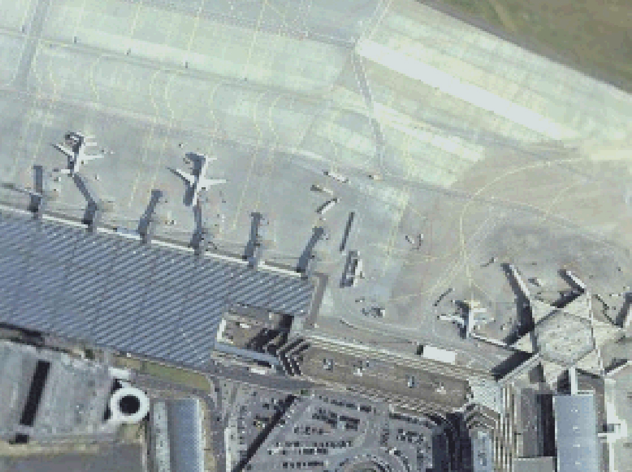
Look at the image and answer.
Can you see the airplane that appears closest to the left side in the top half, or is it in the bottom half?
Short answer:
top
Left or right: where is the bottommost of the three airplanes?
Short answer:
right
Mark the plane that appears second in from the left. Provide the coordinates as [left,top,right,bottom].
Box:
[178,152,227,208]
